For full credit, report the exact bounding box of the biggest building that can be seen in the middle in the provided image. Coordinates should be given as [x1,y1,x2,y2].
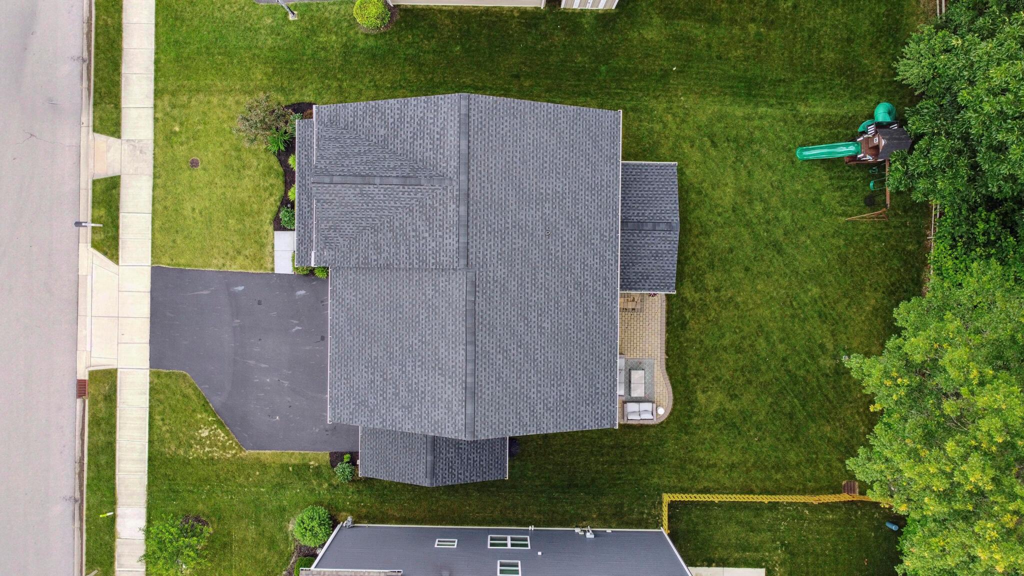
[296,93,679,487]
